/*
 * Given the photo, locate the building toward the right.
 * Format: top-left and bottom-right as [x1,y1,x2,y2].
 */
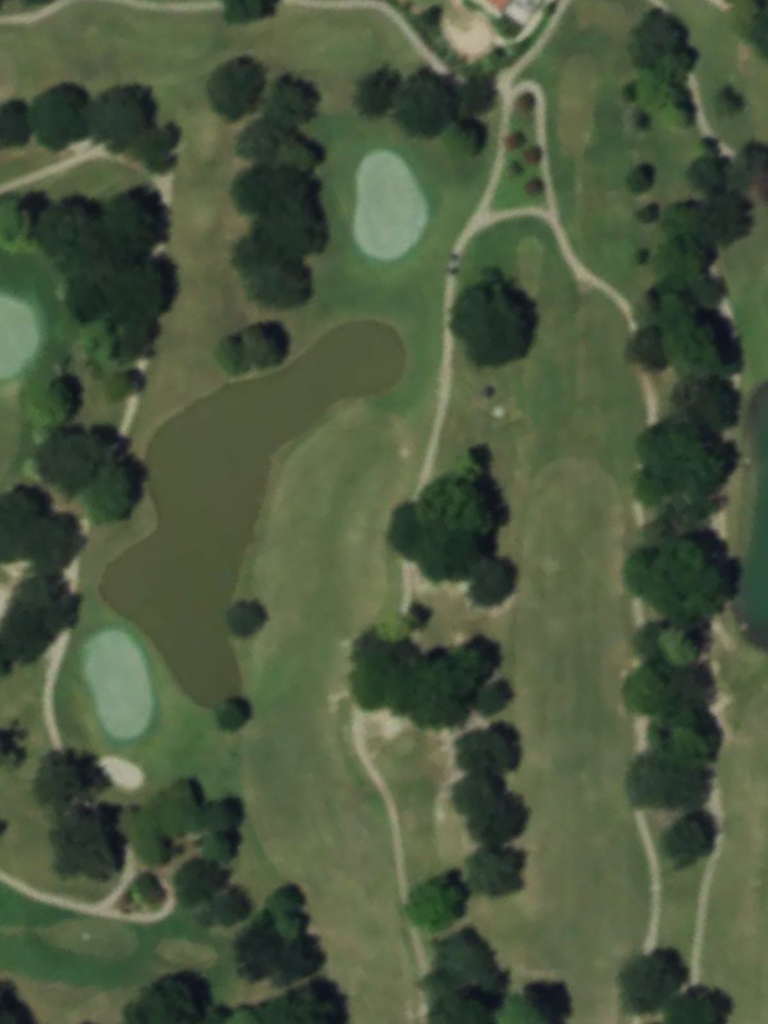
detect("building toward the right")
[489,0,547,32]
